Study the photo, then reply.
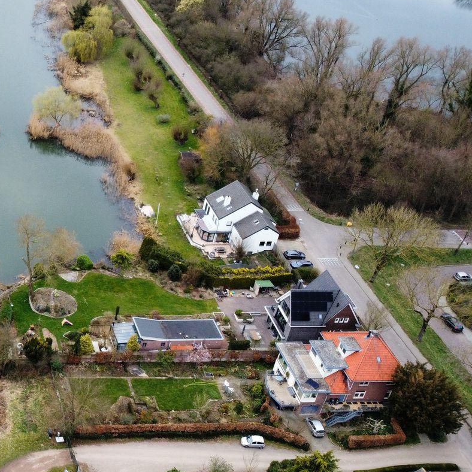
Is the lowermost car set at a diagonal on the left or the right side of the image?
right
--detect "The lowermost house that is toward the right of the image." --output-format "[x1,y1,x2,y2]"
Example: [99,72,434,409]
[264,329,420,422]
